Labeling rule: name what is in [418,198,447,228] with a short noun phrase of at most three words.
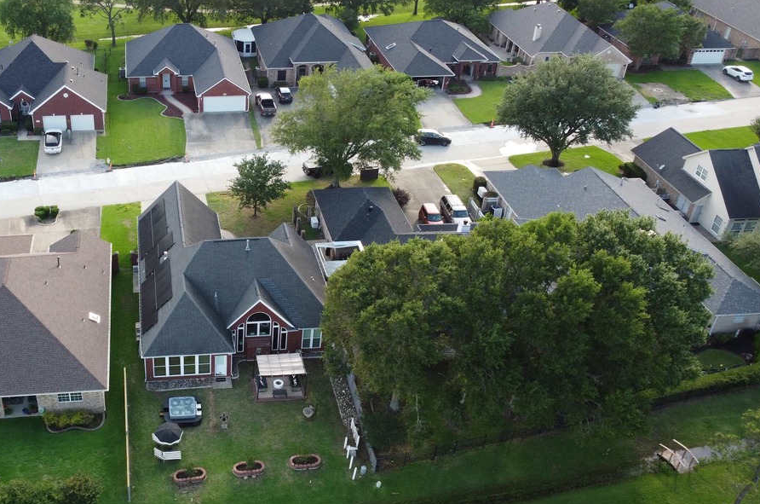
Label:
car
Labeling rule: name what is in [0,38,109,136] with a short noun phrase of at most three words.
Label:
house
